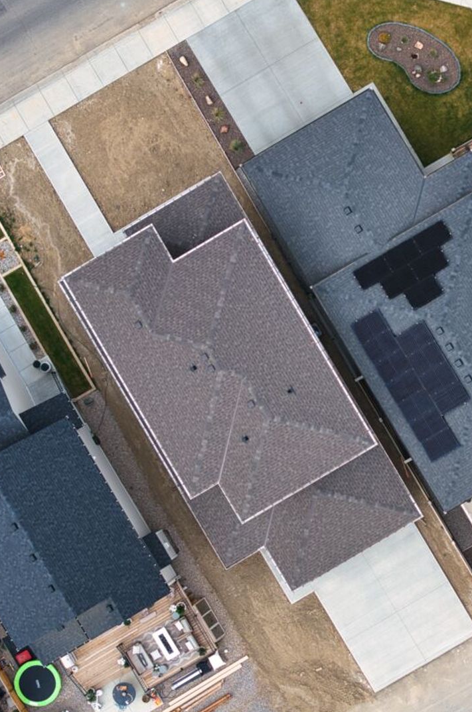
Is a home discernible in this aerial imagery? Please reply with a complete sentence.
Yes, the photo shows a home.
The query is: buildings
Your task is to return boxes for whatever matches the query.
[239,87,472,514]
[57,170,424,593]
[0,330,178,670]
